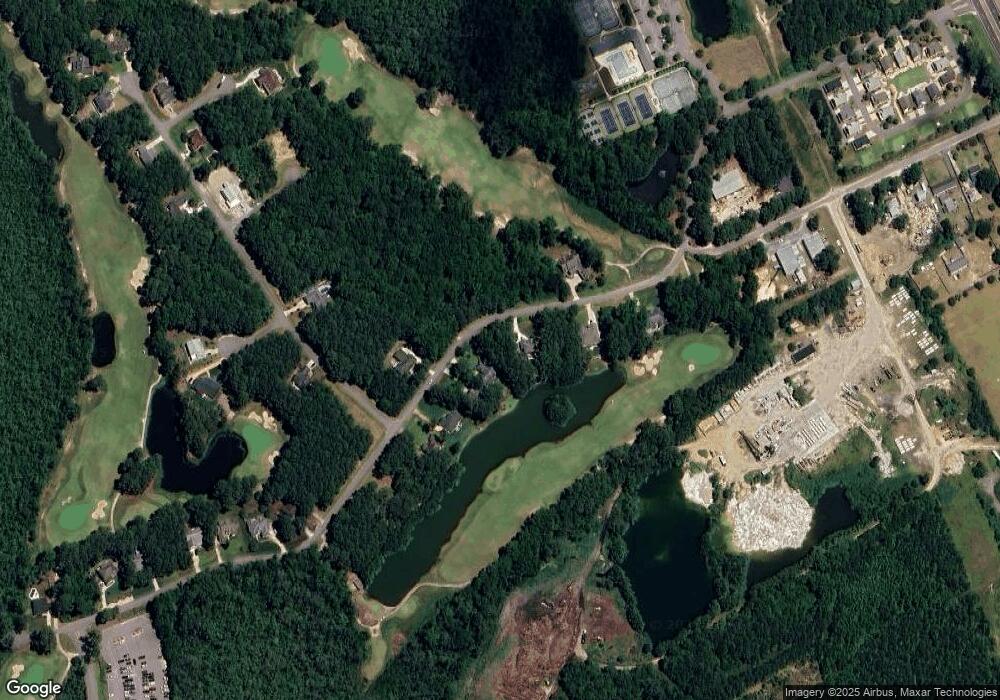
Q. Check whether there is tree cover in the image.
Yes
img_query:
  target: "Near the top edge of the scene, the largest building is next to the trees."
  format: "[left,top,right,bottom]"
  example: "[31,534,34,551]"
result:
[591,28,655,73]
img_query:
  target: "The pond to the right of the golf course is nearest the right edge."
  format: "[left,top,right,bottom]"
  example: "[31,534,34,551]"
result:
[743,485,856,589]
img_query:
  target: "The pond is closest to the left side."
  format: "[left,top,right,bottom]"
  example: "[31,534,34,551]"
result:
[10,73,62,159]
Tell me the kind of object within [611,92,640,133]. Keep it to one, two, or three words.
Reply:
sports court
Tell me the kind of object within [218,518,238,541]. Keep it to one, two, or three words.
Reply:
house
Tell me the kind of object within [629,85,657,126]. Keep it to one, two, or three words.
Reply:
sports court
